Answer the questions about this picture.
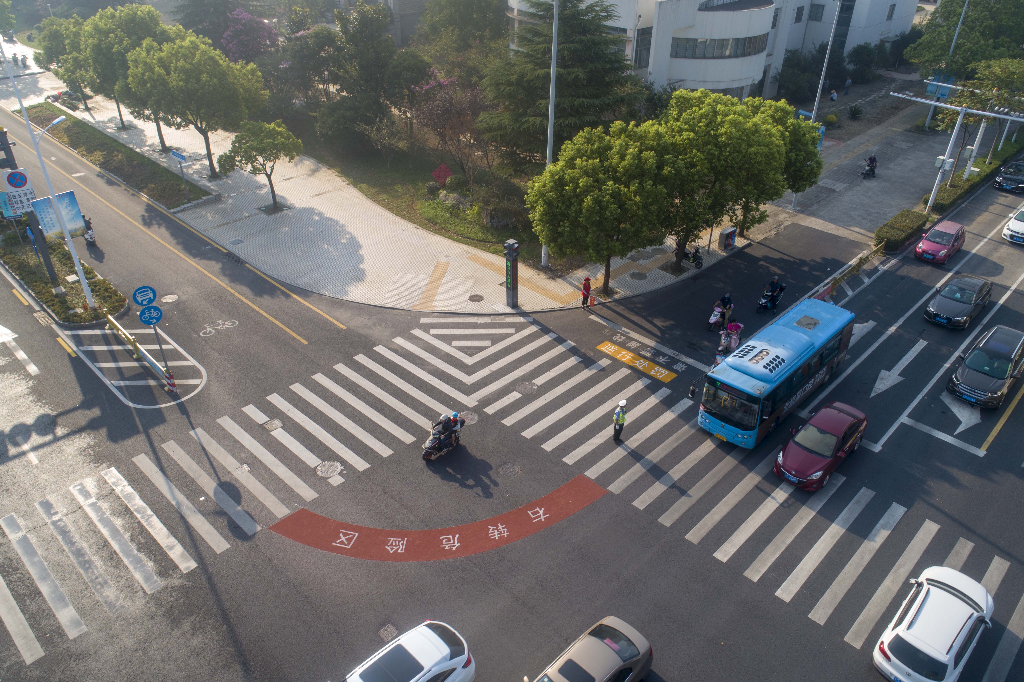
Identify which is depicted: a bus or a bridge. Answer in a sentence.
Visible in the photo is a bus.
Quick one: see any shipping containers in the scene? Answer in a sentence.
No, no shipping container is visible in the view.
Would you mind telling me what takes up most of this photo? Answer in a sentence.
The scene is dominated by paved ground.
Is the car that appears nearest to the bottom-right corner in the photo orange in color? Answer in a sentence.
No, from above the car that appears nearest to the bottom-right corner looks white.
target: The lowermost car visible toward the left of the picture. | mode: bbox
[337,620,481,682]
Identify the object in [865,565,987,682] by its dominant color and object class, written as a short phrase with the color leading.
white car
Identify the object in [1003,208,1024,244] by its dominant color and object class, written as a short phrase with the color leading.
white car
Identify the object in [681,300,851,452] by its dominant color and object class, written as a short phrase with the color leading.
blue bus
